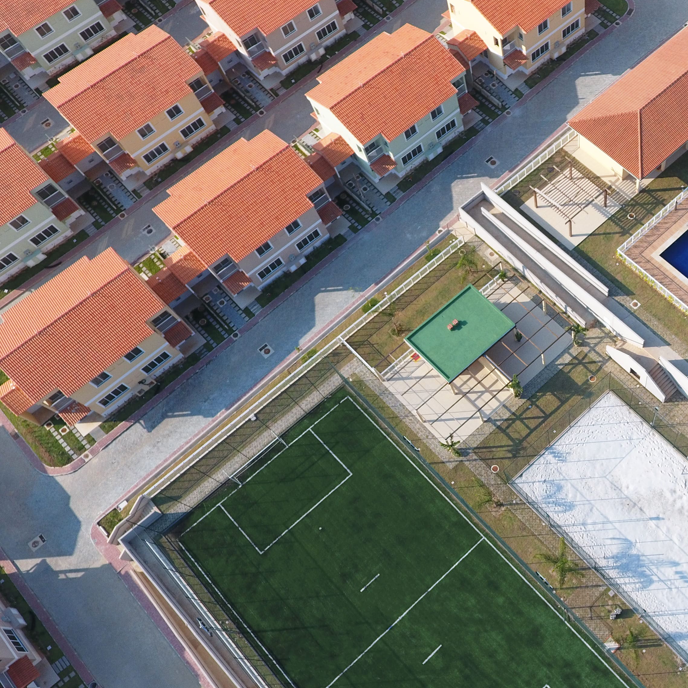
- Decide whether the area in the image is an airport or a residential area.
residential area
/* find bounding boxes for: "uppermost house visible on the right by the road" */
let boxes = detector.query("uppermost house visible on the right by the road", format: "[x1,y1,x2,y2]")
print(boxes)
[440,0,608,94]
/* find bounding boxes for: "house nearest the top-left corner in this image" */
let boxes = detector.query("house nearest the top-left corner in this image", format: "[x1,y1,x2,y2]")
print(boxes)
[0,0,140,92]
